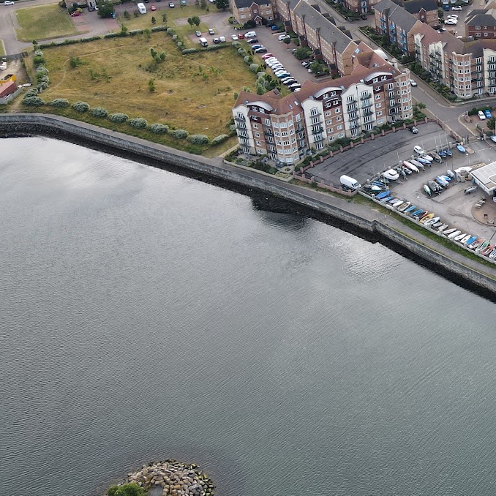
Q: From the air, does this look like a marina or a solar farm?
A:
marina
